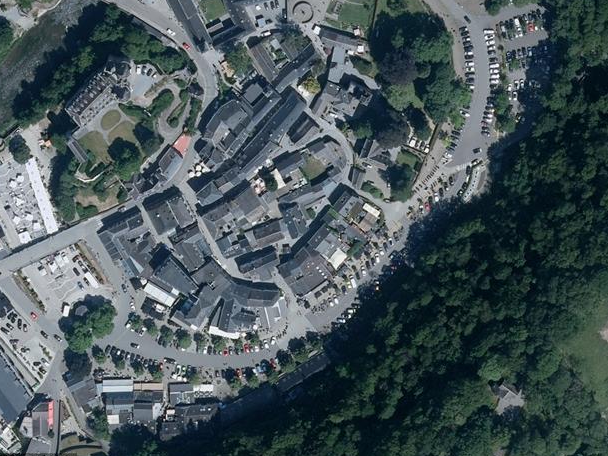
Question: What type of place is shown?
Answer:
residential area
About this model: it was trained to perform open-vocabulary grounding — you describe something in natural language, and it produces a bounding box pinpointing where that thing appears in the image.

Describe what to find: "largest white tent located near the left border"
[26,159,58,234]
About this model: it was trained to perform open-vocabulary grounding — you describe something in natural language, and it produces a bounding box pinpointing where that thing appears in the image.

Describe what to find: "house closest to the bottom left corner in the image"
[0,429,21,456]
